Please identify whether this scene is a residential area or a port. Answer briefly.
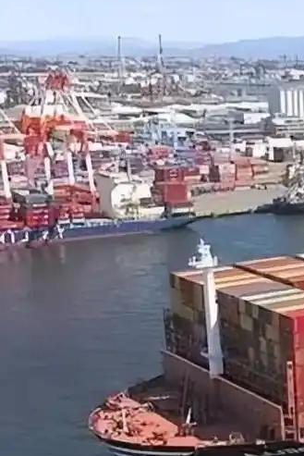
port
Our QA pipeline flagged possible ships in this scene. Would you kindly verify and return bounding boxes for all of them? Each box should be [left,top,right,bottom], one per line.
[0,164,215,248]
[81,240,304,456]
[257,160,304,214]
